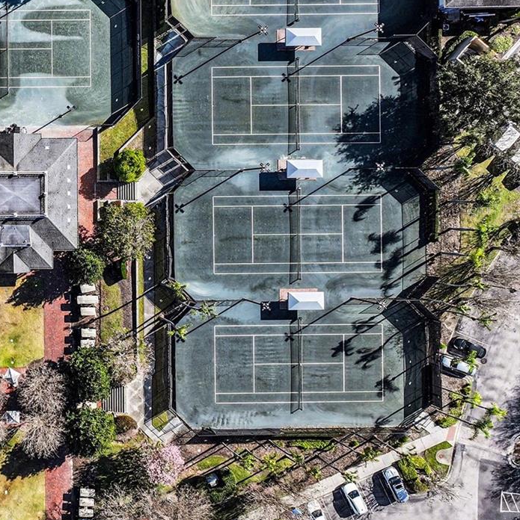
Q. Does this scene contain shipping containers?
No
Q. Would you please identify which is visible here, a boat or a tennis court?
tennis court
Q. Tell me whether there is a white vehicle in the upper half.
No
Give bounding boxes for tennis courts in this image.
[0,0,139,129]
[171,39,432,169]
[172,169,436,299]
[174,299,439,429]
[171,0,430,39]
